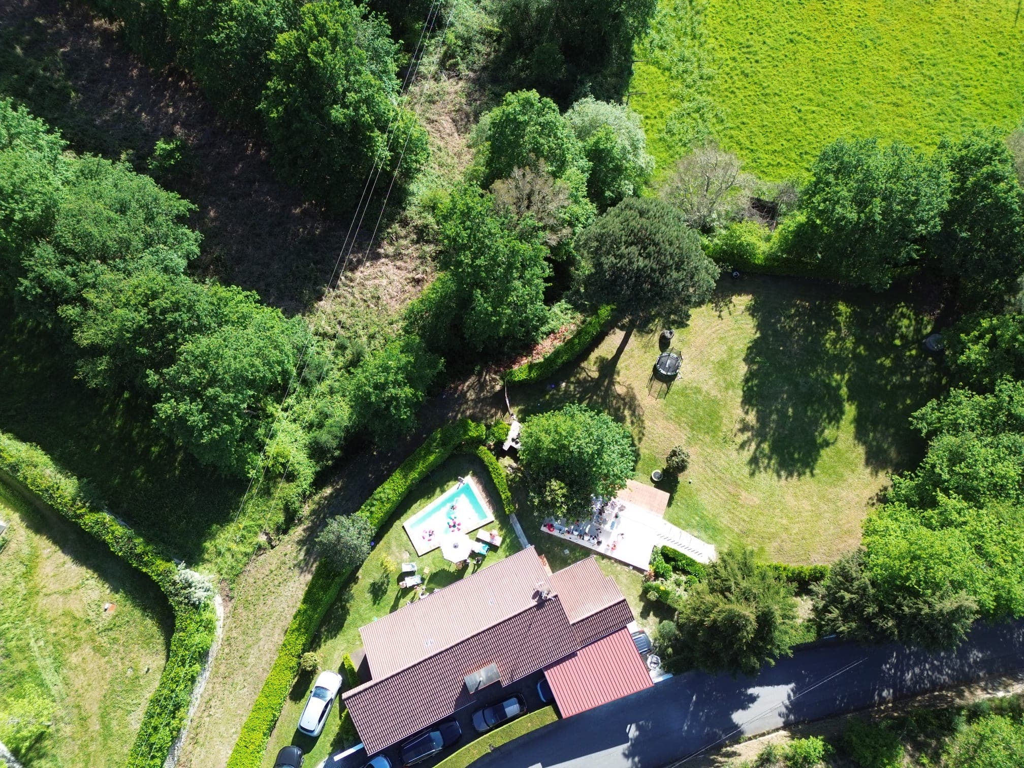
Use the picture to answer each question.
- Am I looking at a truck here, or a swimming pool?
swimming pool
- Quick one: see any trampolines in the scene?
Yes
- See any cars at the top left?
No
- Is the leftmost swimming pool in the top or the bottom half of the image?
bottom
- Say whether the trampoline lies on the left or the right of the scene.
right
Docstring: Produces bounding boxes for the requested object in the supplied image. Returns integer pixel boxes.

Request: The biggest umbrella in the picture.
[440,532,473,565]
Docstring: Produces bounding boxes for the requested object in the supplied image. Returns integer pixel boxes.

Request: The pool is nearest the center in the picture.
[404,477,494,555]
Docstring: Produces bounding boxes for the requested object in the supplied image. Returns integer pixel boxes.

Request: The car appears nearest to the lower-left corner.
[269,746,306,768]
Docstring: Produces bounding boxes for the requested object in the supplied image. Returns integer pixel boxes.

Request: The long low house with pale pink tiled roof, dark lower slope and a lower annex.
[342,544,635,757]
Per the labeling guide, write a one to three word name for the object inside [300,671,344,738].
car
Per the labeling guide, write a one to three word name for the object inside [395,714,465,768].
car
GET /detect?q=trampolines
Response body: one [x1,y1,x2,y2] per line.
[653,339,687,381]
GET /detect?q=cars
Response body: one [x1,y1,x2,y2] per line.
[630,629,656,659]
[471,690,530,734]
[535,675,555,703]
[341,748,394,768]
[269,746,306,768]
[300,671,344,738]
[395,714,465,768]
